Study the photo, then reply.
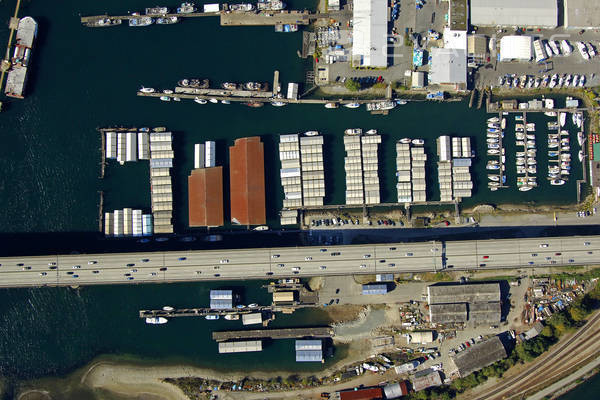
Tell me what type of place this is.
port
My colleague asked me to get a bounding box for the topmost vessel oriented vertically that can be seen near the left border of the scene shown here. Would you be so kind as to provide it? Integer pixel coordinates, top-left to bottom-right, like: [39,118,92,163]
[4,16,35,100]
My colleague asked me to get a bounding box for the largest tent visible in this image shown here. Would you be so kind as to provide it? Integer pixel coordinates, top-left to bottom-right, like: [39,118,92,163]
[500,36,532,61]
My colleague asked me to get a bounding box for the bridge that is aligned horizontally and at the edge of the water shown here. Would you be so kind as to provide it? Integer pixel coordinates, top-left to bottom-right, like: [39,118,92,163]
[0,235,600,289]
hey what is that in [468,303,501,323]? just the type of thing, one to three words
building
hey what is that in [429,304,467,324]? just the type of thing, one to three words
building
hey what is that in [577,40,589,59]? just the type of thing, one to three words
boat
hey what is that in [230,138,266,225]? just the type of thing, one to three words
shed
